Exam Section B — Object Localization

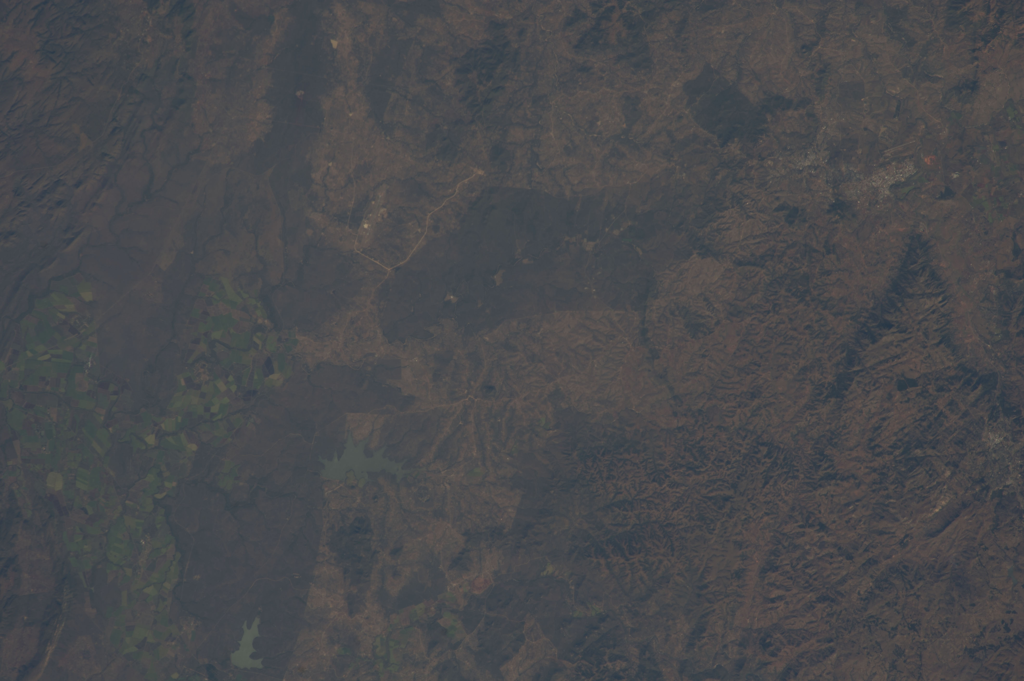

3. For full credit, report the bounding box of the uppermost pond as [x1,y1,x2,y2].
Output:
[318,430,426,483]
